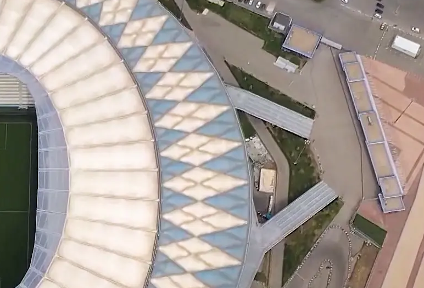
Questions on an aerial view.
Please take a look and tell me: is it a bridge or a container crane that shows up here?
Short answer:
bridge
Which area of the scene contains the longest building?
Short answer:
right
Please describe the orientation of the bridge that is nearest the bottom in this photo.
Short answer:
at an angle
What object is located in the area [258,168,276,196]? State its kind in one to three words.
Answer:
building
